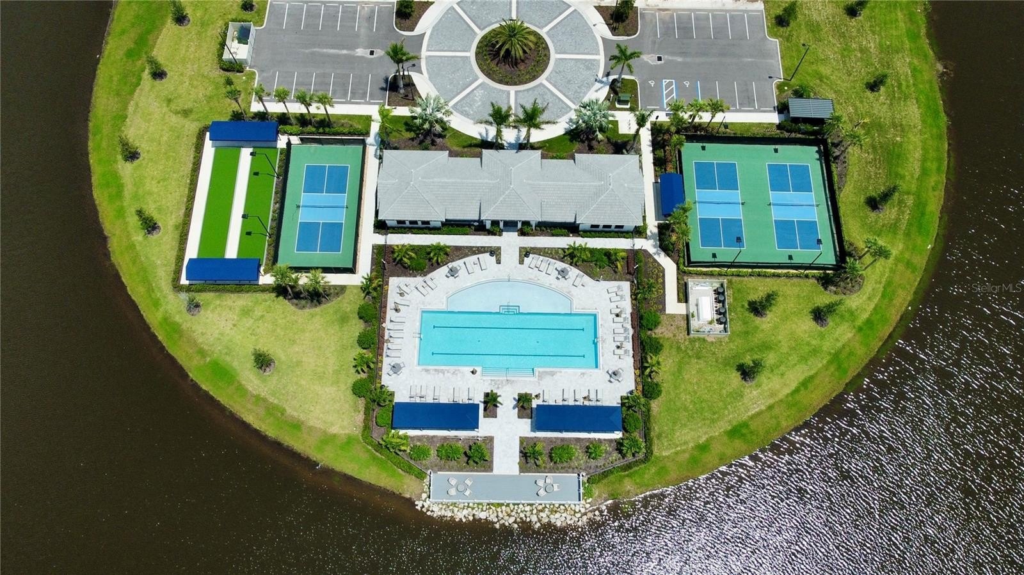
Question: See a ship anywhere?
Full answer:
No, the picture doesn't show any ship.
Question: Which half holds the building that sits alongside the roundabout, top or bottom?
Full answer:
It is in the top half that the building that sits alongside the roundabout appears.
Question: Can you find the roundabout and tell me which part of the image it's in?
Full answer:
The roundabout is located in the top region of the scene.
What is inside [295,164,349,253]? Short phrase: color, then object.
blue sports court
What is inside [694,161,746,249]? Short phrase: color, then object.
blue sports court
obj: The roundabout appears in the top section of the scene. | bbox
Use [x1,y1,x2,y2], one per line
[421,0,604,134]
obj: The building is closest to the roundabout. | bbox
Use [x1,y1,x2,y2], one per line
[374,148,648,231]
